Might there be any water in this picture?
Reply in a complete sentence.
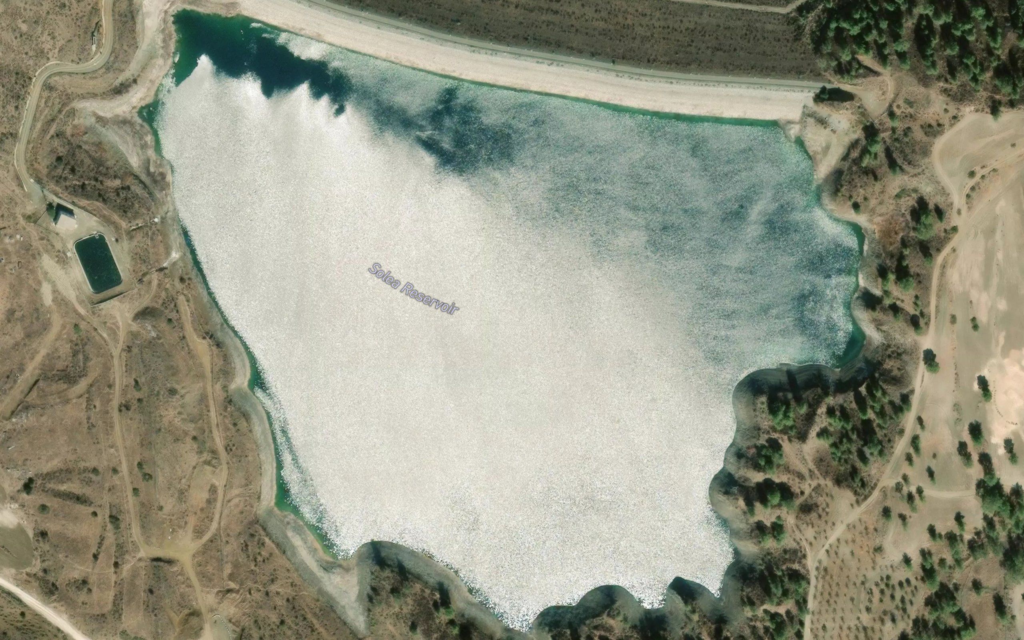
Yes, water shows up in the scene.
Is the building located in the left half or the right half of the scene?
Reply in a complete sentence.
The building appears in the left half of the scene.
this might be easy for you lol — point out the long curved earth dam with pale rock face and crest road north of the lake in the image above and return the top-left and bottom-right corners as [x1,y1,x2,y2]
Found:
[226,0,826,141]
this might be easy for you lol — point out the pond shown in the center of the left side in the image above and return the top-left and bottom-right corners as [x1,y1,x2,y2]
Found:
[73,232,123,294]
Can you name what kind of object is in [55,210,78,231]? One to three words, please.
building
